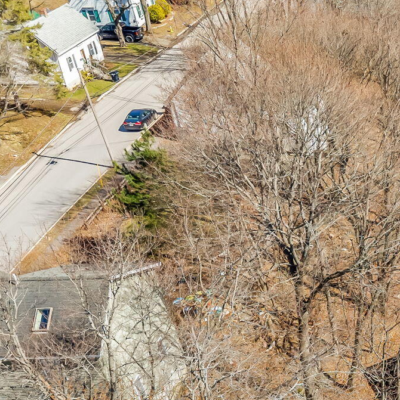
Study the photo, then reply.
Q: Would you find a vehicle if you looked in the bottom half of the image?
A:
No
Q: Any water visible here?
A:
No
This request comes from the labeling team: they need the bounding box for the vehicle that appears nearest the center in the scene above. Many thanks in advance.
[124,107,162,130]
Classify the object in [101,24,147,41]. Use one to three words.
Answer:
vehicle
